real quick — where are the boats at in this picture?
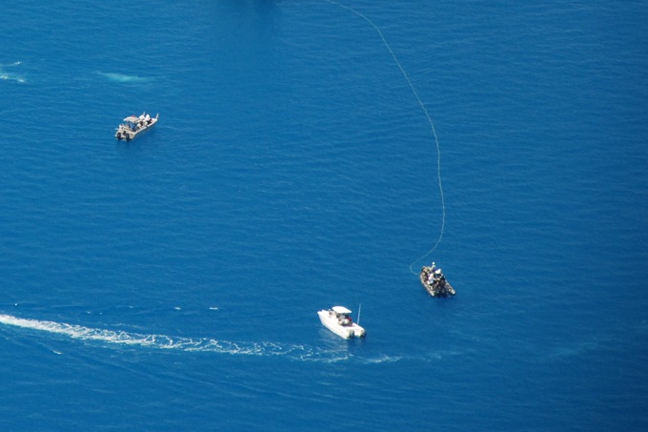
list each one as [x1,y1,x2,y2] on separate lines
[419,269,456,297]
[114,111,157,141]
[316,307,364,339]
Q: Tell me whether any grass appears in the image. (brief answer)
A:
No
